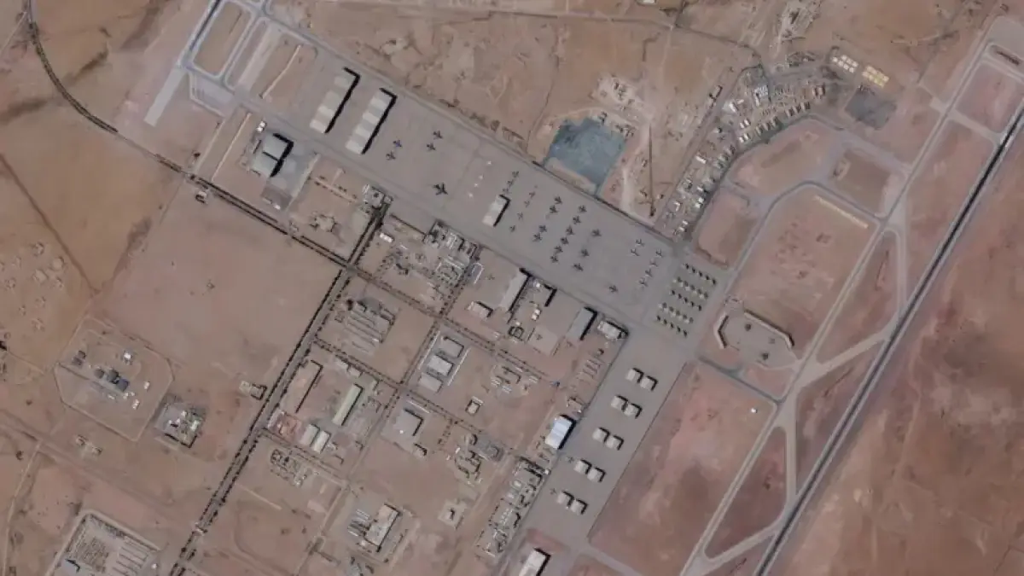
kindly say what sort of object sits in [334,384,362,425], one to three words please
building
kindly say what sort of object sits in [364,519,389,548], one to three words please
building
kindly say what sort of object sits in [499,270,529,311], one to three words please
hangar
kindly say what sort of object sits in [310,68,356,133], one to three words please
hangar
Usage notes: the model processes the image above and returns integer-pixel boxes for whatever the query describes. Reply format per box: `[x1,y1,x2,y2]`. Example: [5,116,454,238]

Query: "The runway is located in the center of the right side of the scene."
[751,98,1024,576]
